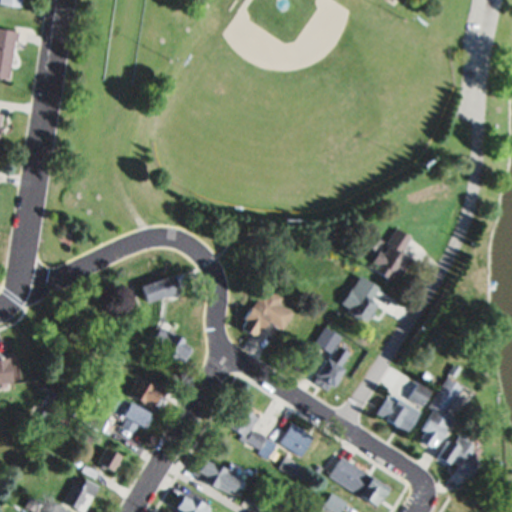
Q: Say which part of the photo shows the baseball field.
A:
top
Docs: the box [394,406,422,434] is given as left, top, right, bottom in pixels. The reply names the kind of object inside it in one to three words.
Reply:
house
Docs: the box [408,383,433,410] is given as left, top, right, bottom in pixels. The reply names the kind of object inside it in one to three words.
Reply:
building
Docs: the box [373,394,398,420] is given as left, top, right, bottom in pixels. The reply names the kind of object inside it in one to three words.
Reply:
building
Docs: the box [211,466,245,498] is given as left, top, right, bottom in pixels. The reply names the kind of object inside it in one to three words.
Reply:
house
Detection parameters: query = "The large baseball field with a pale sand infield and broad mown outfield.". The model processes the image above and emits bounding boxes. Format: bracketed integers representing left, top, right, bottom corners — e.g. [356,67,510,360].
[152,0,454,213]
